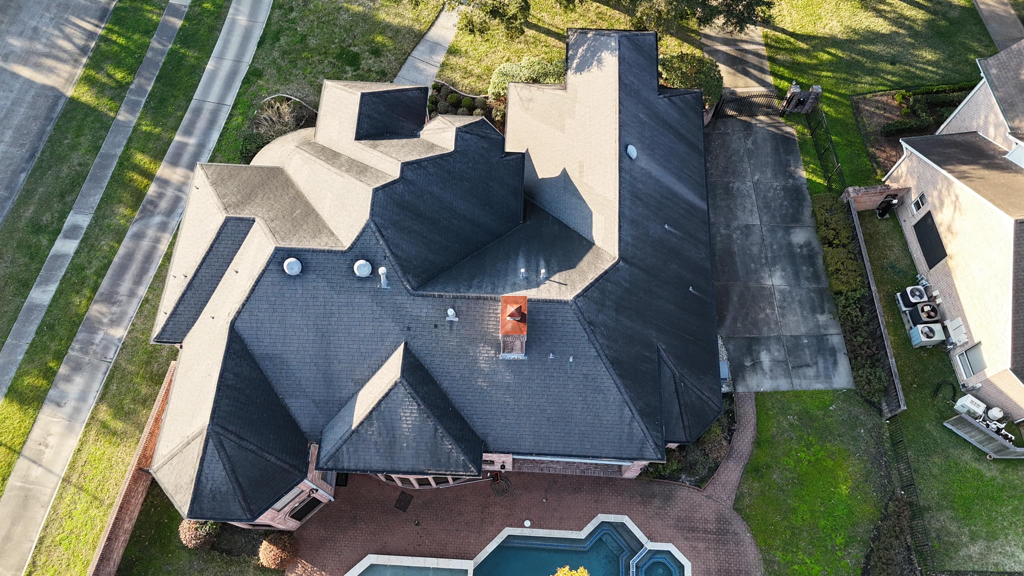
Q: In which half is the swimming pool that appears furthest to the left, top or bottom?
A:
bottom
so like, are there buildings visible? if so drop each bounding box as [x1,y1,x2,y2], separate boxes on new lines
[146,26,725,531]
[881,52,1024,429]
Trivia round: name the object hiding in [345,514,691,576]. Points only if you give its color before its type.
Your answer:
blue swimming pool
